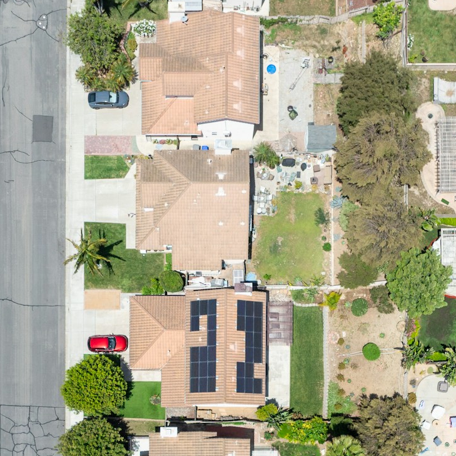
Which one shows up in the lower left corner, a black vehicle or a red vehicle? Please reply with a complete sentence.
It is a red vehicle that can be seen in the lower left corner.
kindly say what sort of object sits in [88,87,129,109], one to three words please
car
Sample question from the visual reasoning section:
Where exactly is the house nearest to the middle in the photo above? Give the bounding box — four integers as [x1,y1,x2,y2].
[136,139,252,272]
